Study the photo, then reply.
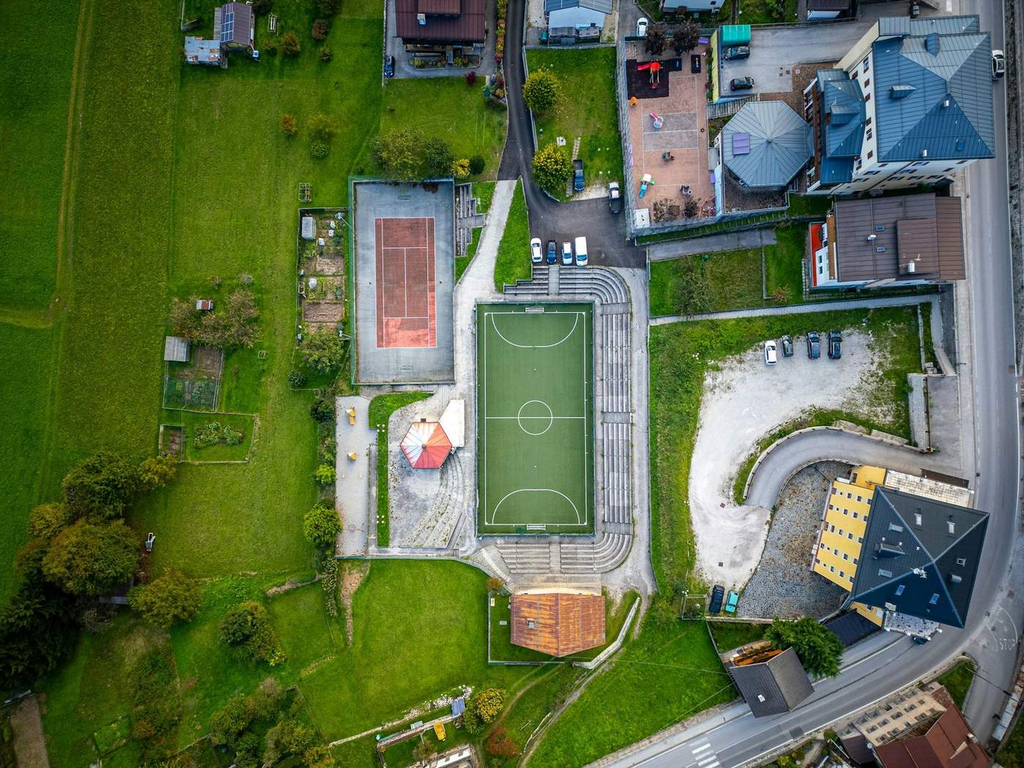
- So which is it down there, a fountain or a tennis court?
tennis court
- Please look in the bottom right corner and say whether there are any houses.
Yes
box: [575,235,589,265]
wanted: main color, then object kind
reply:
white vehicle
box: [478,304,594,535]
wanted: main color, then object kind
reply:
green sports field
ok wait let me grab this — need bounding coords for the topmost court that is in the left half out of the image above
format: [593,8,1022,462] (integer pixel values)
[353,181,455,384]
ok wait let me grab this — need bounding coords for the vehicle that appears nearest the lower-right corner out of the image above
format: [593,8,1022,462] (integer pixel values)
[908,634,934,650]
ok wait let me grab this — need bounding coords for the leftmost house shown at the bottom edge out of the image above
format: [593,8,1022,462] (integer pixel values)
[415,737,480,768]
